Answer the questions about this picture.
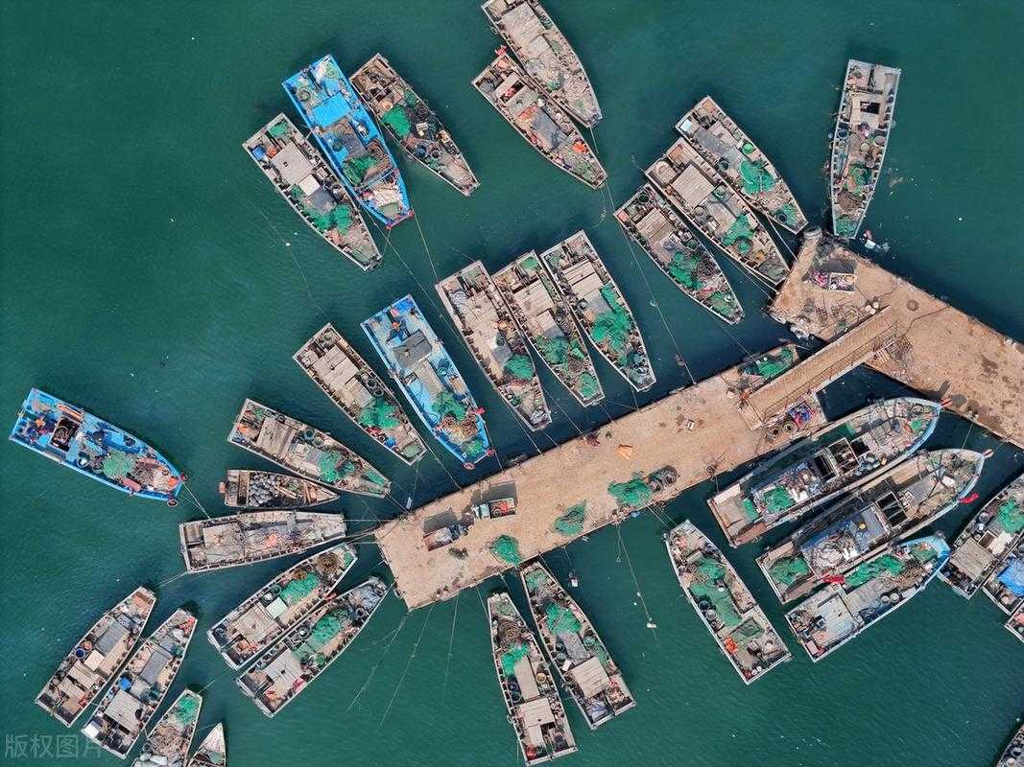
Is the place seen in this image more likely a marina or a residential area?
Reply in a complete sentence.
The area seen from above is a marina.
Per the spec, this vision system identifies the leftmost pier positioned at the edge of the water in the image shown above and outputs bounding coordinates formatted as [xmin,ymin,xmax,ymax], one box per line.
[374,372,765,612]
